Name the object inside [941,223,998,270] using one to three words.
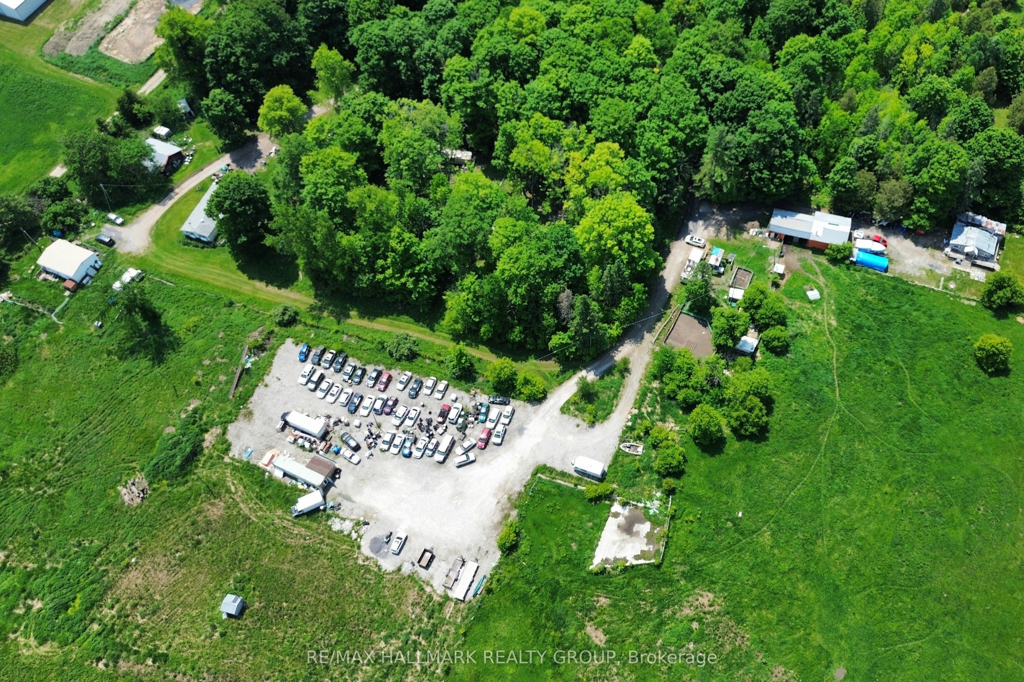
house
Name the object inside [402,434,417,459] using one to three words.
vehicle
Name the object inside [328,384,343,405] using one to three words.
car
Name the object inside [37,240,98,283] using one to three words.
barn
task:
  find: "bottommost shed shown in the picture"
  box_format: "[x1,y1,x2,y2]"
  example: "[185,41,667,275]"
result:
[219,593,246,615]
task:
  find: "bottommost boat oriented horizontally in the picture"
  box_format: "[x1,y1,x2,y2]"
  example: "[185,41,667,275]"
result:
[620,443,645,455]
